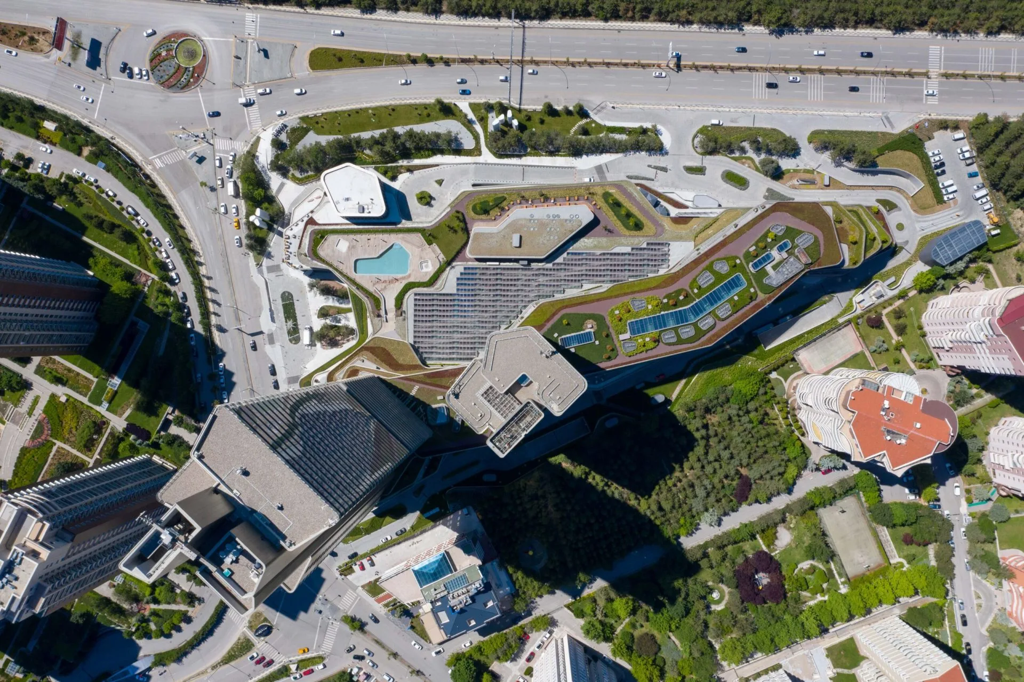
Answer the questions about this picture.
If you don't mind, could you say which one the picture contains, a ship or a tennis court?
tennis court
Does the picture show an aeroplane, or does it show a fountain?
fountain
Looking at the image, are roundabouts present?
Yes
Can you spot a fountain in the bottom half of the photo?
No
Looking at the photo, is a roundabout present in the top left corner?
Yes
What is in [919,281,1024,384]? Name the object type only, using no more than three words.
building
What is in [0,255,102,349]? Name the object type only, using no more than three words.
building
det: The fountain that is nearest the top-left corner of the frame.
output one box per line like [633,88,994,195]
[174,38,204,67]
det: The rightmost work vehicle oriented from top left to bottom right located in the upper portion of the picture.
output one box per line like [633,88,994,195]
[983,210,1003,225]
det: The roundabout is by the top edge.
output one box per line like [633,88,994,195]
[149,32,207,91]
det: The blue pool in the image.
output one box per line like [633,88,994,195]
[353,241,411,276]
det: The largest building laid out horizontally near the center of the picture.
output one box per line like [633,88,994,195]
[305,179,894,454]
